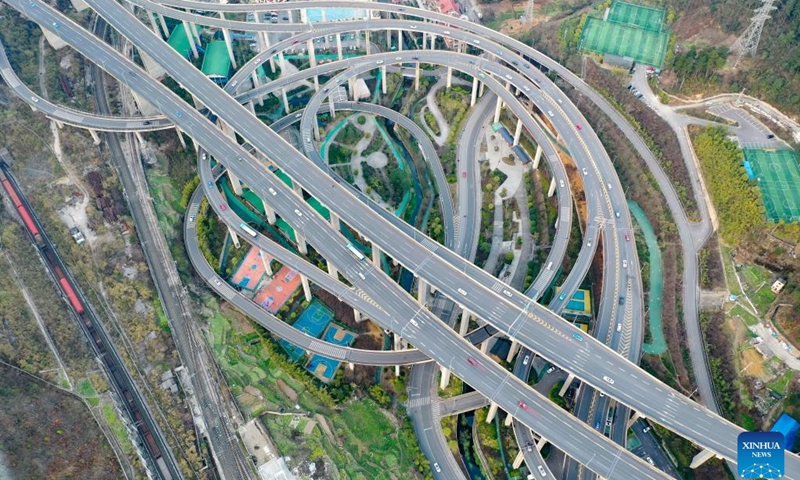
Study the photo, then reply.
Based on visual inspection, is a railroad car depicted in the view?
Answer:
Yes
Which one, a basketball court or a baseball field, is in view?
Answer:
basketball court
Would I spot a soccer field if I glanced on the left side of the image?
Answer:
No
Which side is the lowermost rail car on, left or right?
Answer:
left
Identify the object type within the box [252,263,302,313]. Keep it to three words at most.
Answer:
basketball court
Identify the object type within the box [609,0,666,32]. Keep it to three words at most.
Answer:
soccer field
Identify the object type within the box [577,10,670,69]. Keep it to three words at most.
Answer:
soccer field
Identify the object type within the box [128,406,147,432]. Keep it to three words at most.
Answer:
rail car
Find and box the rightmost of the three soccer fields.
[743,144,800,221]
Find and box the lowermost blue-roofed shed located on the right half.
[767,412,800,450]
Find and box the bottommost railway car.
[153,454,175,480]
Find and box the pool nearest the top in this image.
[300,0,370,22]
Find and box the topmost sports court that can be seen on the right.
[555,283,594,313]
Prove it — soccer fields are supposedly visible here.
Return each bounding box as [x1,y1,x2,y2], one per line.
[743,144,800,221]
[609,0,666,32]
[577,10,670,69]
